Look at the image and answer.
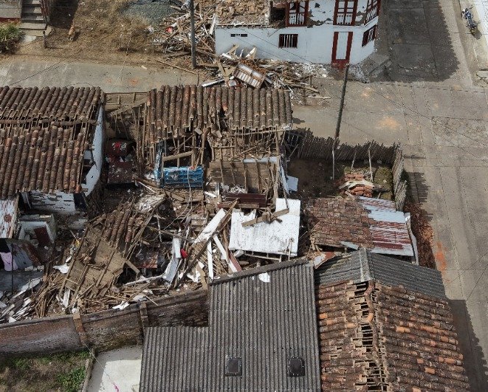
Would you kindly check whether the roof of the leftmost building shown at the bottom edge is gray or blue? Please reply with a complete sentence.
In this view, the roof of the leftmost building shown at the bottom edge is gray.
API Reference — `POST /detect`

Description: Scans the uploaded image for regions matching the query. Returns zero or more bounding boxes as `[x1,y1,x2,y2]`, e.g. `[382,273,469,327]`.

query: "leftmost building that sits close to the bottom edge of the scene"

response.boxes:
[141,259,321,392]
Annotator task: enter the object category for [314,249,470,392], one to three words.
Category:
house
